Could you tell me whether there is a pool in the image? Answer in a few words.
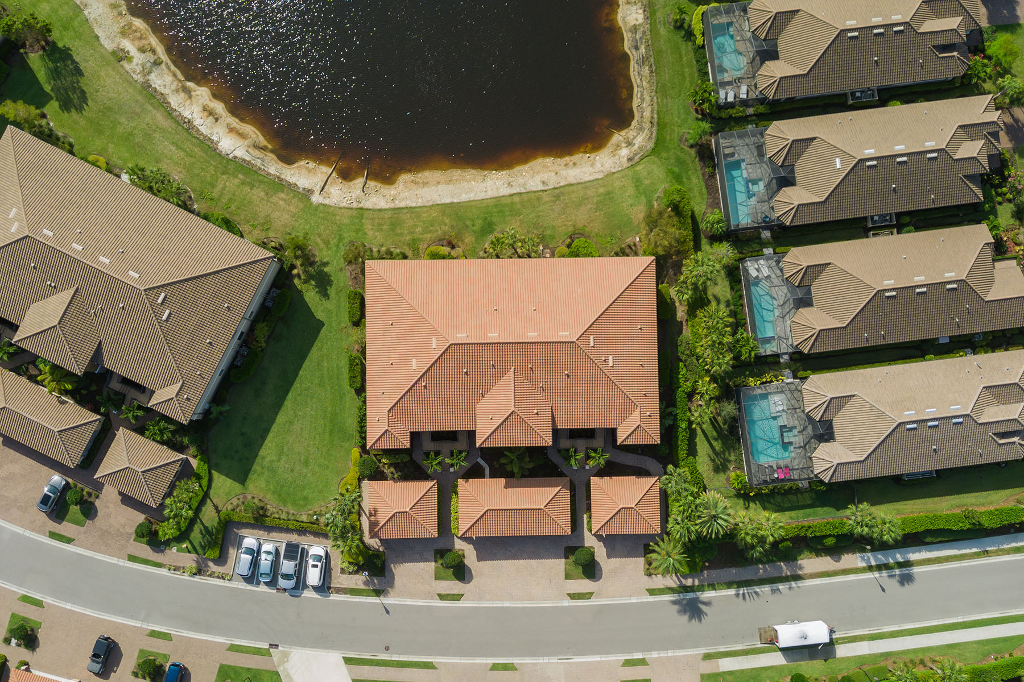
Yes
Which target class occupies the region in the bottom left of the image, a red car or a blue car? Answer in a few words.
blue car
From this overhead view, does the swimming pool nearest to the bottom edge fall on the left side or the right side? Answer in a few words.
right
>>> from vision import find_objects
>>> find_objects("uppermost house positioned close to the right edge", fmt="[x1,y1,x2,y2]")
[748,0,991,99]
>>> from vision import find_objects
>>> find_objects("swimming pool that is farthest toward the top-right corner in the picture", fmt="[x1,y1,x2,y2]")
[710,20,748,78]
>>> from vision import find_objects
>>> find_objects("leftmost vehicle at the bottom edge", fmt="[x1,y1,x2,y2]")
[87,633,115,674]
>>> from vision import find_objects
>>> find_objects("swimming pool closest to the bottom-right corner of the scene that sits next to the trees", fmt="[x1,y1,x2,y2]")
[744,392,799,464]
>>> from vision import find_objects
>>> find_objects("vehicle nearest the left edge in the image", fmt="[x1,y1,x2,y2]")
[36,474,67,514]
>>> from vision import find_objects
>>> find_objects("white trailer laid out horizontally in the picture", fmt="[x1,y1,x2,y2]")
[753,615,833,649]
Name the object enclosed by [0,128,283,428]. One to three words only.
building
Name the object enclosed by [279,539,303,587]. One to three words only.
truck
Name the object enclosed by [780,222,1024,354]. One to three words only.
house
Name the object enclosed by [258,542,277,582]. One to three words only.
car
